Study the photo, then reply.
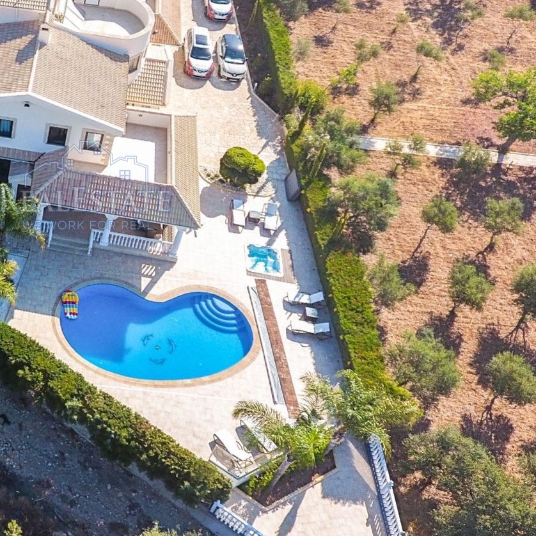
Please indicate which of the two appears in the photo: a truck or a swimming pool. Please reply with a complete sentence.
Looking from above, you can make out a swimming pool.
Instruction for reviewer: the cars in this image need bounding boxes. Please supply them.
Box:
[177,32,216,80]
[198,0,234,23]
[211,37,249,85]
